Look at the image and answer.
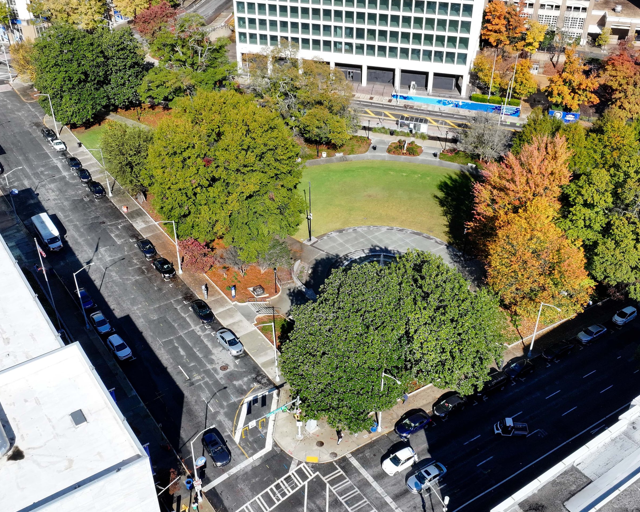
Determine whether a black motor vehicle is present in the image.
Yes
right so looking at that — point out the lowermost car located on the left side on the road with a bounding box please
[199,429,235,469]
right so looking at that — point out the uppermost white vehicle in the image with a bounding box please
[50,139,67,154]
